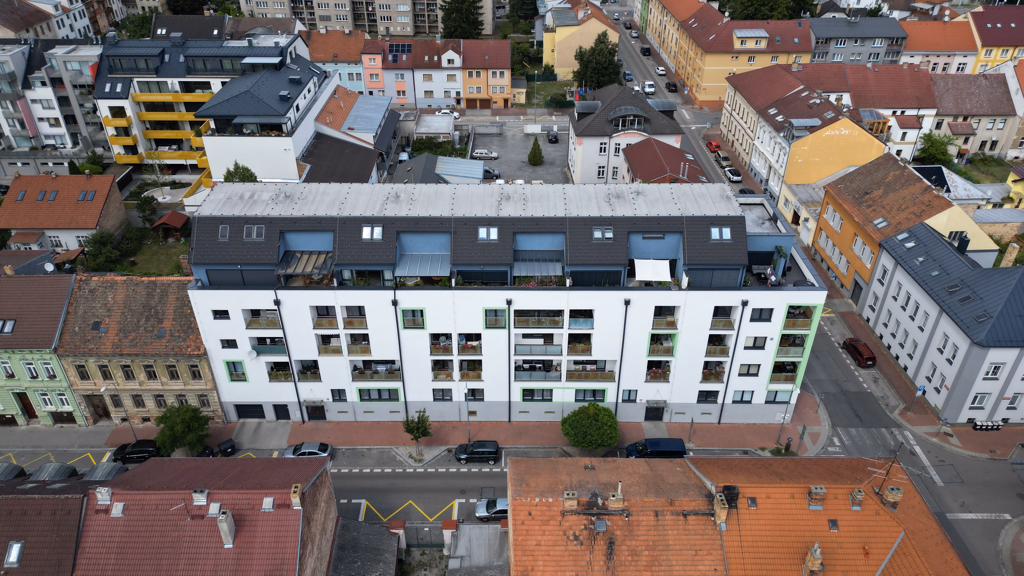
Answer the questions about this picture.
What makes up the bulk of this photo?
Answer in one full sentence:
For the most part, this view shows buildings.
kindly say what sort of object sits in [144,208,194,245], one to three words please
gazebo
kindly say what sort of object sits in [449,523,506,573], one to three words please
shed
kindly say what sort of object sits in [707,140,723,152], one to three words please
vehicle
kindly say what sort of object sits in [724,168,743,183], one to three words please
car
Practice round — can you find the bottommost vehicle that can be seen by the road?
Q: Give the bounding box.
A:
[477,492,508,520]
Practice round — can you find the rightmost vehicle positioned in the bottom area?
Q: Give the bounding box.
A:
[844,341,879,371]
